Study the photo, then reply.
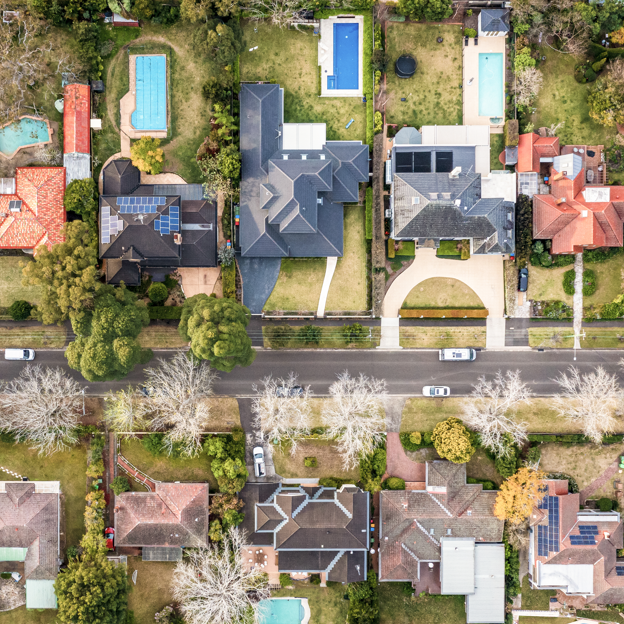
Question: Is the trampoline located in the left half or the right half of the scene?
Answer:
right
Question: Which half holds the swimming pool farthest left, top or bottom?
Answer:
top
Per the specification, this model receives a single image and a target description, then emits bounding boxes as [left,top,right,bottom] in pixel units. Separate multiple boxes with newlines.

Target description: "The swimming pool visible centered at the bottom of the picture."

[257,598,307,624]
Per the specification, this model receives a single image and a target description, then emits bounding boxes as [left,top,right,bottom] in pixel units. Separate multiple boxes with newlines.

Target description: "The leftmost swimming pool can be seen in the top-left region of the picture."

[0,114,53,160]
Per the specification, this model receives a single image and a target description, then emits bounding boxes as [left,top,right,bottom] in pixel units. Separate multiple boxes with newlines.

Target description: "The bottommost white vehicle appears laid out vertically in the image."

[253,445,266,478]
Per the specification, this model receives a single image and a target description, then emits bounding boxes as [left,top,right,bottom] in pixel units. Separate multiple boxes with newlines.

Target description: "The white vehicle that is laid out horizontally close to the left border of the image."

[3,348,35,360]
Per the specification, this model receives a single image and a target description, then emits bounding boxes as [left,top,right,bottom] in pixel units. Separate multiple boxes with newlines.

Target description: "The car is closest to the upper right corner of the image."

[516,268,530,292]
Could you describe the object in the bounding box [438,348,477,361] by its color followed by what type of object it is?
white vehicle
